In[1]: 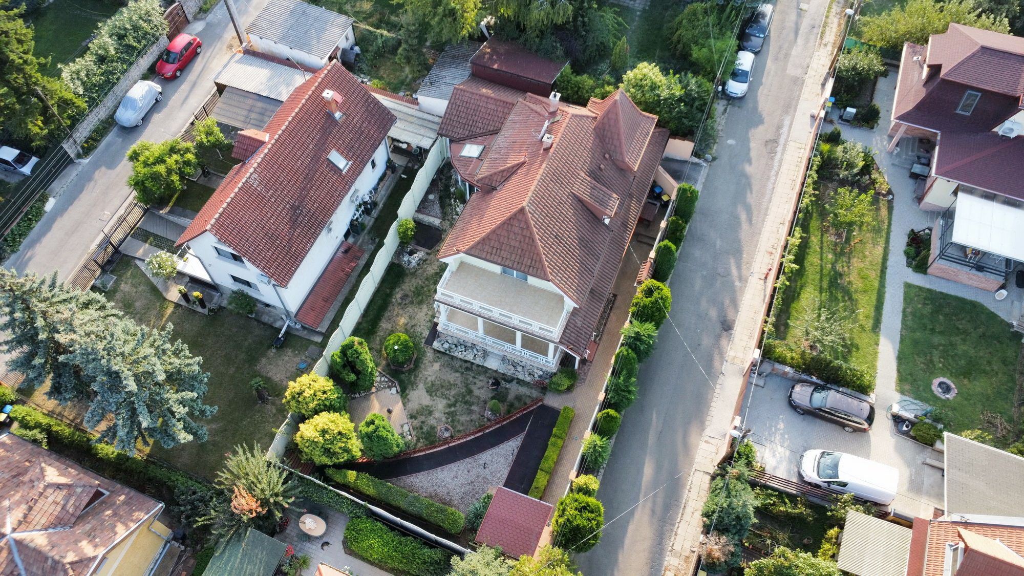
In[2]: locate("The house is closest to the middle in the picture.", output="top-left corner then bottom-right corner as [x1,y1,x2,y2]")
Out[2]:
[432,75,676,369]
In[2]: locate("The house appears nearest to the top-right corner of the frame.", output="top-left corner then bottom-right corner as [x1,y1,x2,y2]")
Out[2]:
[876,0,1024,239]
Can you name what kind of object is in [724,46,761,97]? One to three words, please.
car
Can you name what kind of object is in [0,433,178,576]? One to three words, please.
house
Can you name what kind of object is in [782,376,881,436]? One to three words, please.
car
